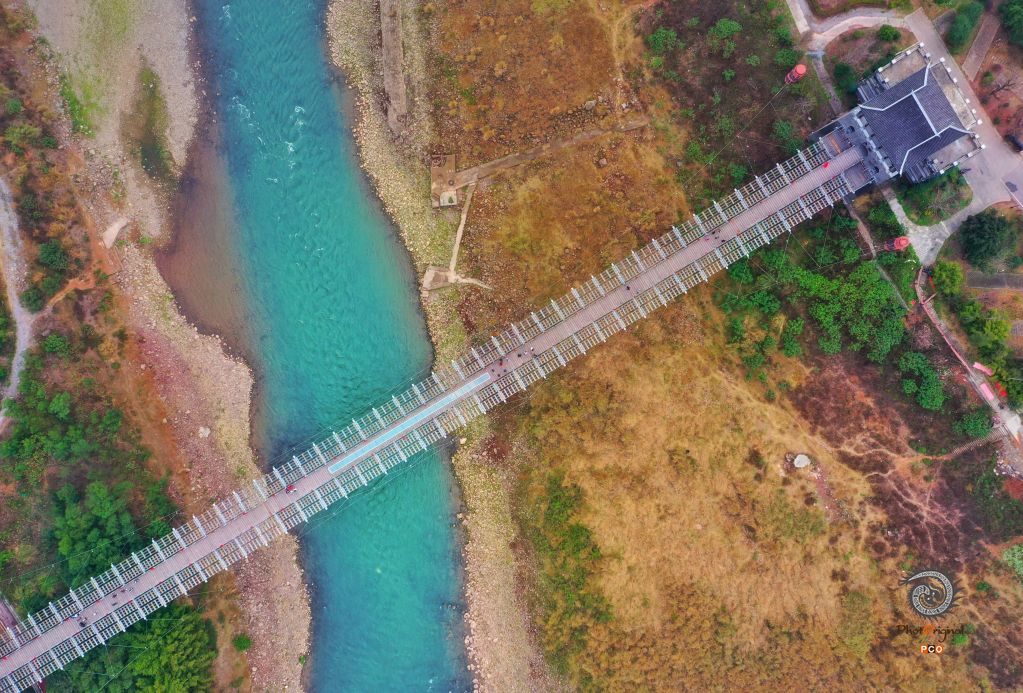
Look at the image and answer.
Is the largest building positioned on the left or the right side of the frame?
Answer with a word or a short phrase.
right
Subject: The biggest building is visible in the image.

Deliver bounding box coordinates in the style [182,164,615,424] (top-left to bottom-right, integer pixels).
[838,42,985,188]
